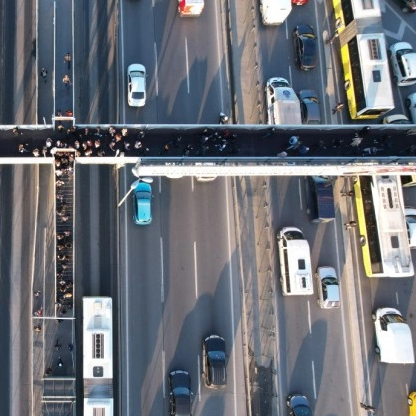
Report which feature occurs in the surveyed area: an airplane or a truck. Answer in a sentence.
The image shows a truck.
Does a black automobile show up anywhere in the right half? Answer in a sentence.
Yes, the scene does show a black automobile in the right half.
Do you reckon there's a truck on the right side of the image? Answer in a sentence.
Yes, on the right side of the image there is a truck.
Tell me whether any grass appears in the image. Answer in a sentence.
No, the scene doesn't show any grass.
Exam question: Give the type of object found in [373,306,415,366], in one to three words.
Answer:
van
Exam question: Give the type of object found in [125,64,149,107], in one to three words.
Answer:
car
